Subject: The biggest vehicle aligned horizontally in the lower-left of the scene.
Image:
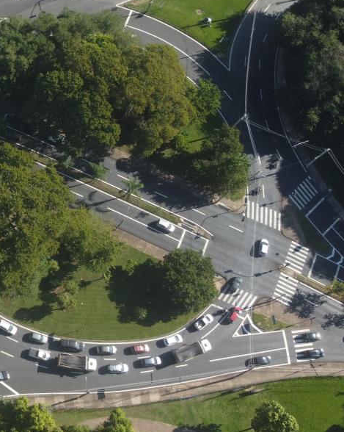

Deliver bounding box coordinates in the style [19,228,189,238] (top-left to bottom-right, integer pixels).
[55,352,97,369]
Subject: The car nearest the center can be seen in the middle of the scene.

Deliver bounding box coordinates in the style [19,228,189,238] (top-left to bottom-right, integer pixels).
[156,219,175,233]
